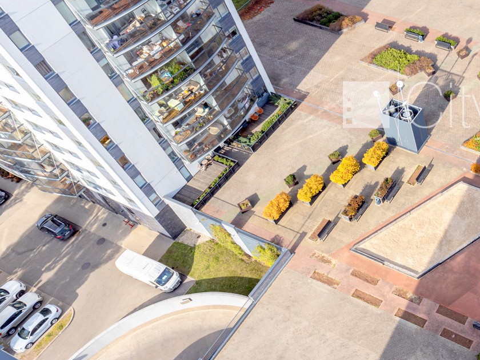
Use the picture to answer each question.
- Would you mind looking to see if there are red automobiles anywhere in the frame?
No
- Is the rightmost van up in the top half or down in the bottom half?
bottom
